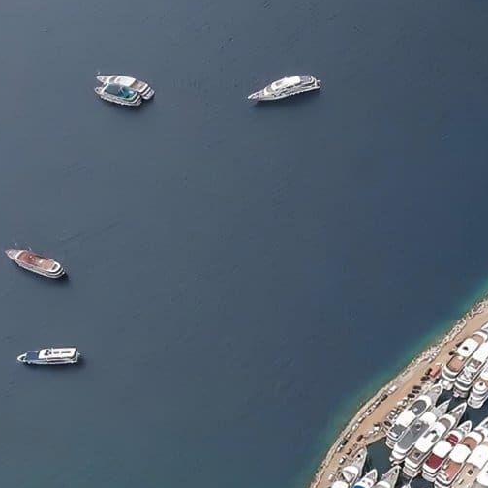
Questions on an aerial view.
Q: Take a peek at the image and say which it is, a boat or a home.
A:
boat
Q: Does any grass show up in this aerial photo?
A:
No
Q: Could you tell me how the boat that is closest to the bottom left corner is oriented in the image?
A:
from left to right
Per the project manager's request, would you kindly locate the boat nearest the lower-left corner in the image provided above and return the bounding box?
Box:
[19,345,82,367]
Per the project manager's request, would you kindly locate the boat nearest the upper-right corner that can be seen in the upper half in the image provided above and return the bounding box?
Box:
[249,75,323,102]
